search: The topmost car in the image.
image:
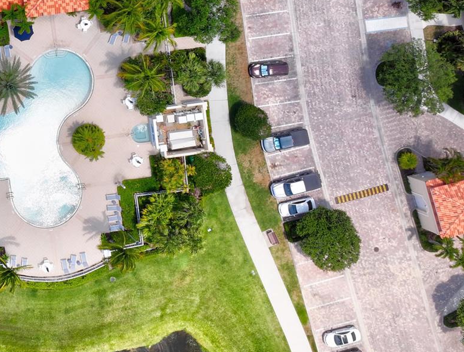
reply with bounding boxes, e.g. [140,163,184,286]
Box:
[248,60,289,79]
